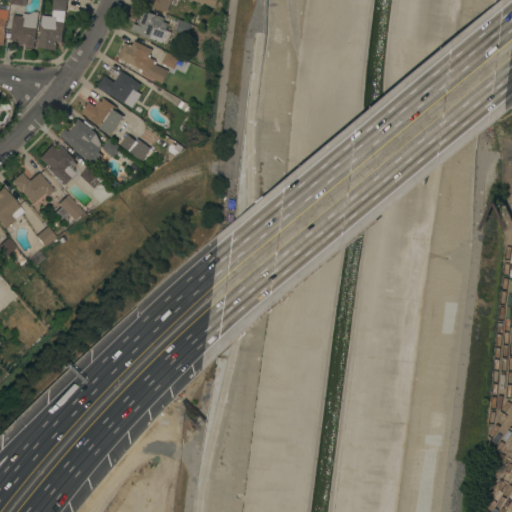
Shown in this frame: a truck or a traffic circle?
truck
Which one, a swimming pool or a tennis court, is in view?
swimming pool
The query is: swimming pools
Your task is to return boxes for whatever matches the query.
[108,158,120,176]
[16,228,32,252]
[69,184,92,206]
[150,106,166,126]
[26,0,40,13]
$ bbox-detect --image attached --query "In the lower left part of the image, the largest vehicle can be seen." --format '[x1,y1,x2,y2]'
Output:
[48,382,80,414]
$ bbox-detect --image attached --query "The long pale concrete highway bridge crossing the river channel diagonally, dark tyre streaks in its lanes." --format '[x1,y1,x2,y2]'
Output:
[203,0,512,372]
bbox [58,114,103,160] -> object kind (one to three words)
house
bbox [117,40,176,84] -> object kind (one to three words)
house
